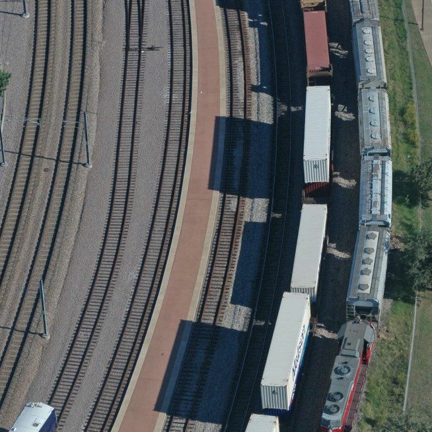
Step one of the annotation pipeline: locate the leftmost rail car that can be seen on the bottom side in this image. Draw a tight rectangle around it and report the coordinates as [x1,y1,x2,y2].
[261,318,314,432]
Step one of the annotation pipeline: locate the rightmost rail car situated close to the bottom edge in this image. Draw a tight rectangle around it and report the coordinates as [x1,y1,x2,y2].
[307,318,380,432]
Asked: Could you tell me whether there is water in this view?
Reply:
No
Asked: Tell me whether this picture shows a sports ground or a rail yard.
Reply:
rail yard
